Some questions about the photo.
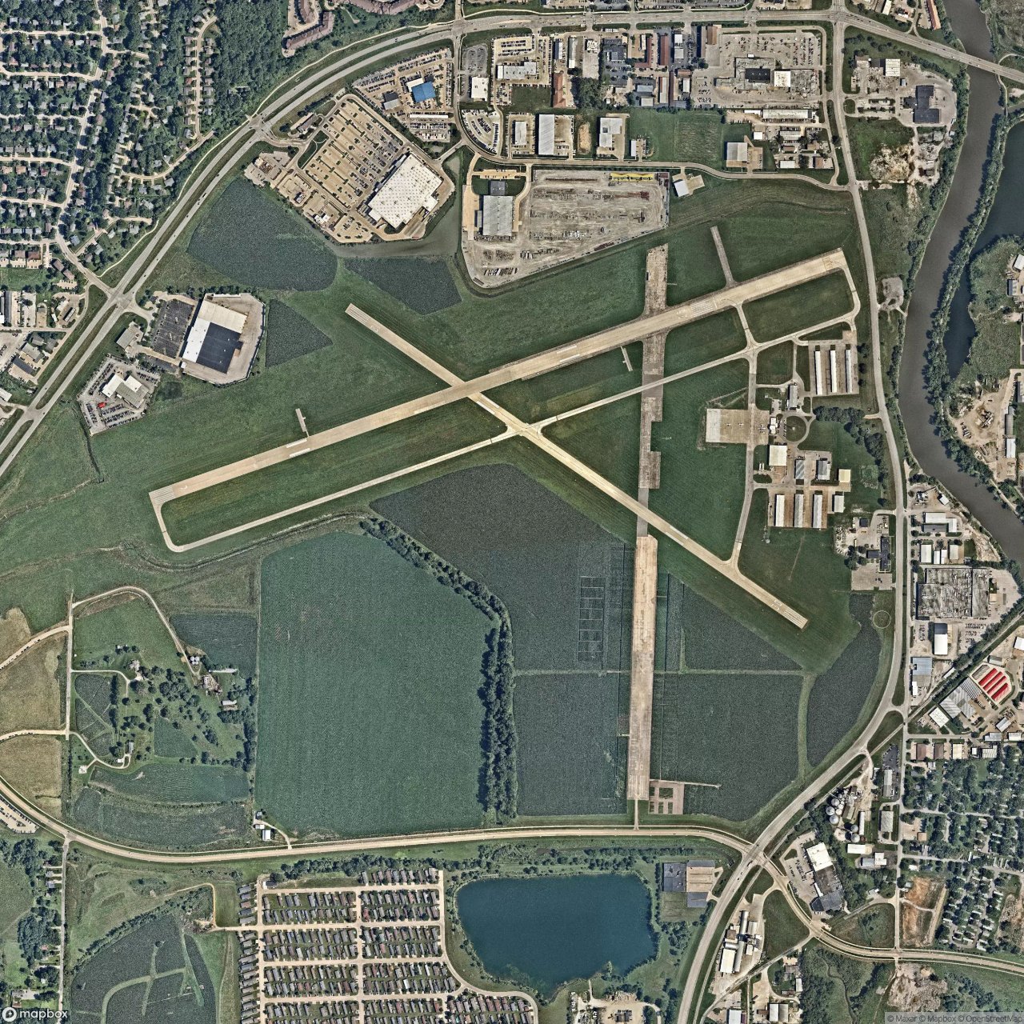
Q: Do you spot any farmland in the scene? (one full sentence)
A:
Yes, farmland shows up in the scene.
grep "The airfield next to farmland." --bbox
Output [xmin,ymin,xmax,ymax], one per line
[149,226,860,801]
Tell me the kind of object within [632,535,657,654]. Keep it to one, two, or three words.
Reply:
runway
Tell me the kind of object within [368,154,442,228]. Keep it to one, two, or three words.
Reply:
building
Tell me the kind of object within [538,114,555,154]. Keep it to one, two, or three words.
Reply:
house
